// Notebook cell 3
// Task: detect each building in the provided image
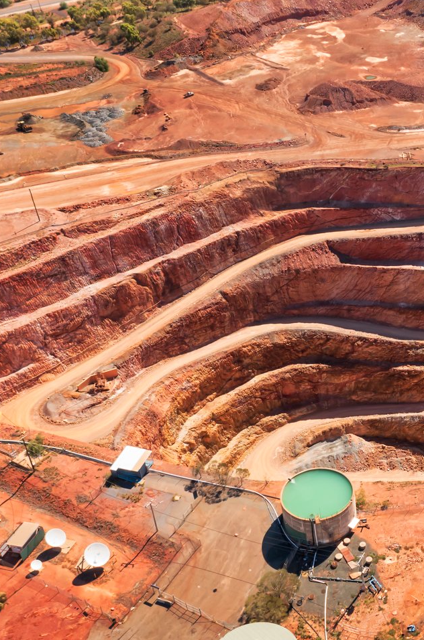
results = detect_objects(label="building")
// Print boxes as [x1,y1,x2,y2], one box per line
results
[111,447,152,483]
[6,522,41,558]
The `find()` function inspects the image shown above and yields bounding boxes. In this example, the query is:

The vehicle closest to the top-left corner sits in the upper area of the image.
[13,120,37,134]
